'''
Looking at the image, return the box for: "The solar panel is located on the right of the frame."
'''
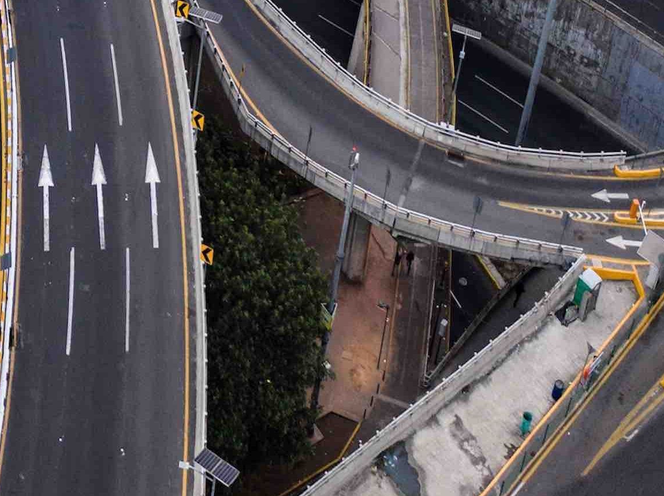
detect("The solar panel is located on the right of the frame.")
[452,24,482,39]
